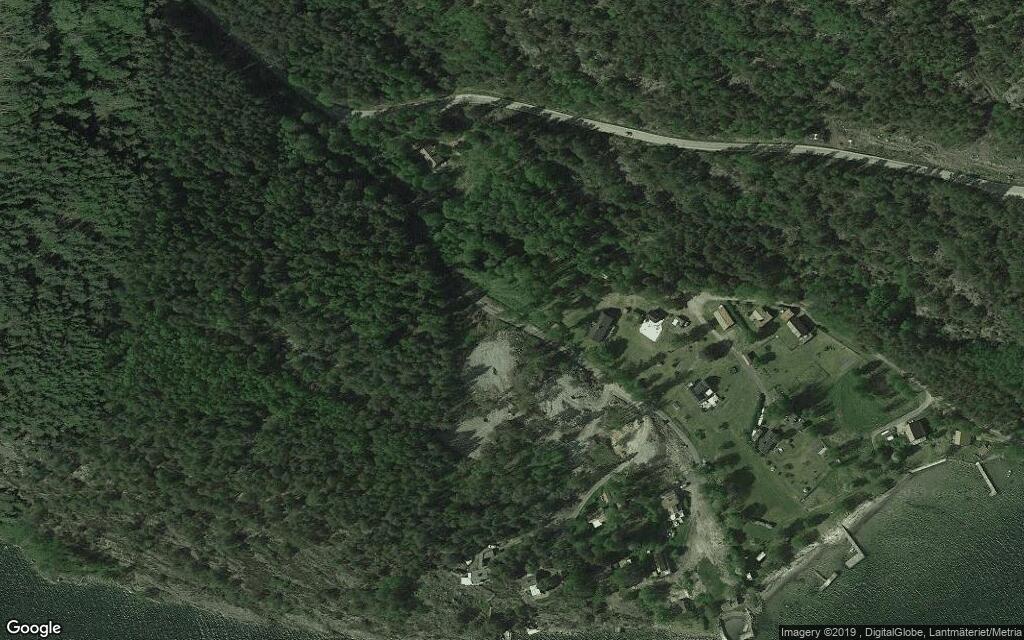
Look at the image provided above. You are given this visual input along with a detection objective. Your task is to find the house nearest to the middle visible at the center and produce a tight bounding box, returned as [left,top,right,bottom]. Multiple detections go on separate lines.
[590,311,615,339]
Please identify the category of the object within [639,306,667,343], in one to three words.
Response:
house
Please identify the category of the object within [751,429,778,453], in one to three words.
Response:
house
